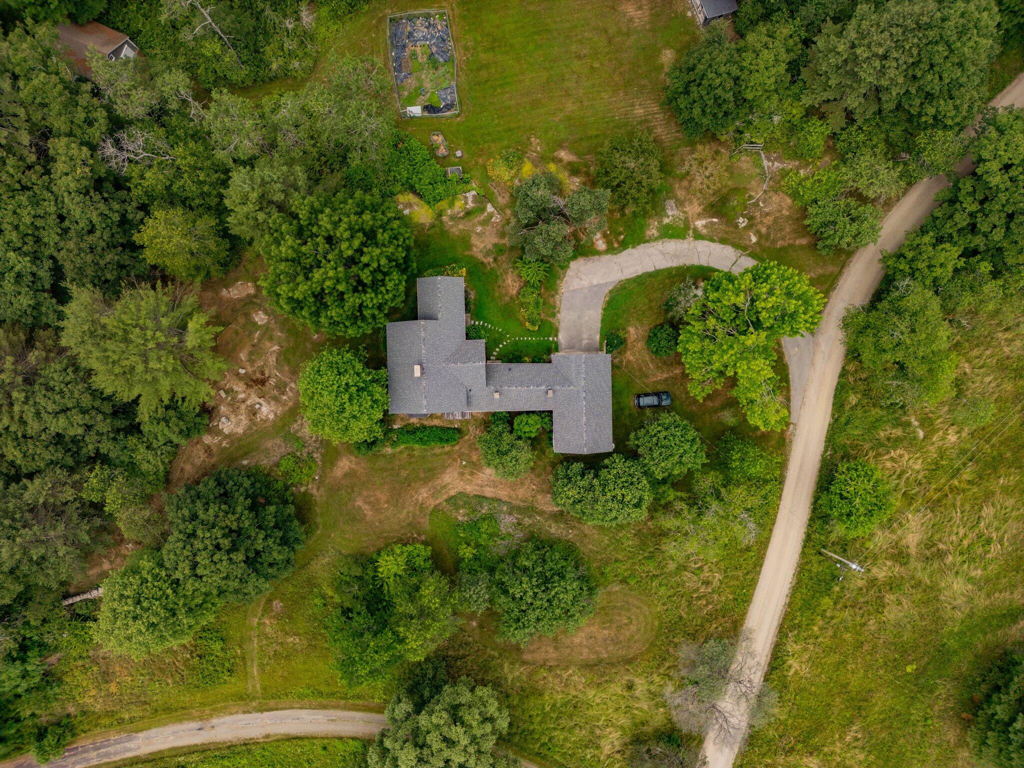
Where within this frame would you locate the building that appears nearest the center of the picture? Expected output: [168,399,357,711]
[388,275,618,455]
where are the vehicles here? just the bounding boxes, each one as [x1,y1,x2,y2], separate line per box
[633,390,671,408]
